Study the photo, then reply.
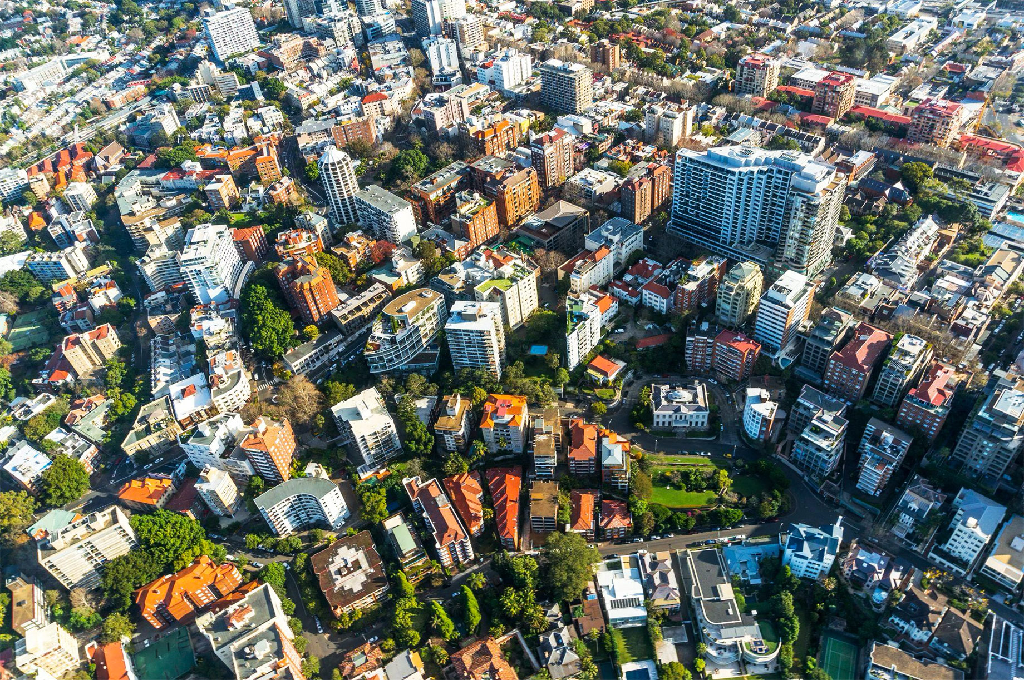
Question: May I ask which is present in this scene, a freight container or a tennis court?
tennis court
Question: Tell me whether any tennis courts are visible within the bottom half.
Yes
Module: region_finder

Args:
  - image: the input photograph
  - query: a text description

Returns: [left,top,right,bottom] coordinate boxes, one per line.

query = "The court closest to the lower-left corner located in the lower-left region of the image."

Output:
[127,628,198,680]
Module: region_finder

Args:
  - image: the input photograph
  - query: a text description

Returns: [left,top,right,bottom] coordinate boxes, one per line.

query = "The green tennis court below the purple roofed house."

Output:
[815,625,868,680]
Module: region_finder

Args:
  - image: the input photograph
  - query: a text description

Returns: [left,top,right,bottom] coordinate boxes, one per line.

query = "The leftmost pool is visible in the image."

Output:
[528,344,550,356]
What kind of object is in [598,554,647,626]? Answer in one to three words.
house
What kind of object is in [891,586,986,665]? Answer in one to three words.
house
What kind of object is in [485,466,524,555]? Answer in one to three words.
building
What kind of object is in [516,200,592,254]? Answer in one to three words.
building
